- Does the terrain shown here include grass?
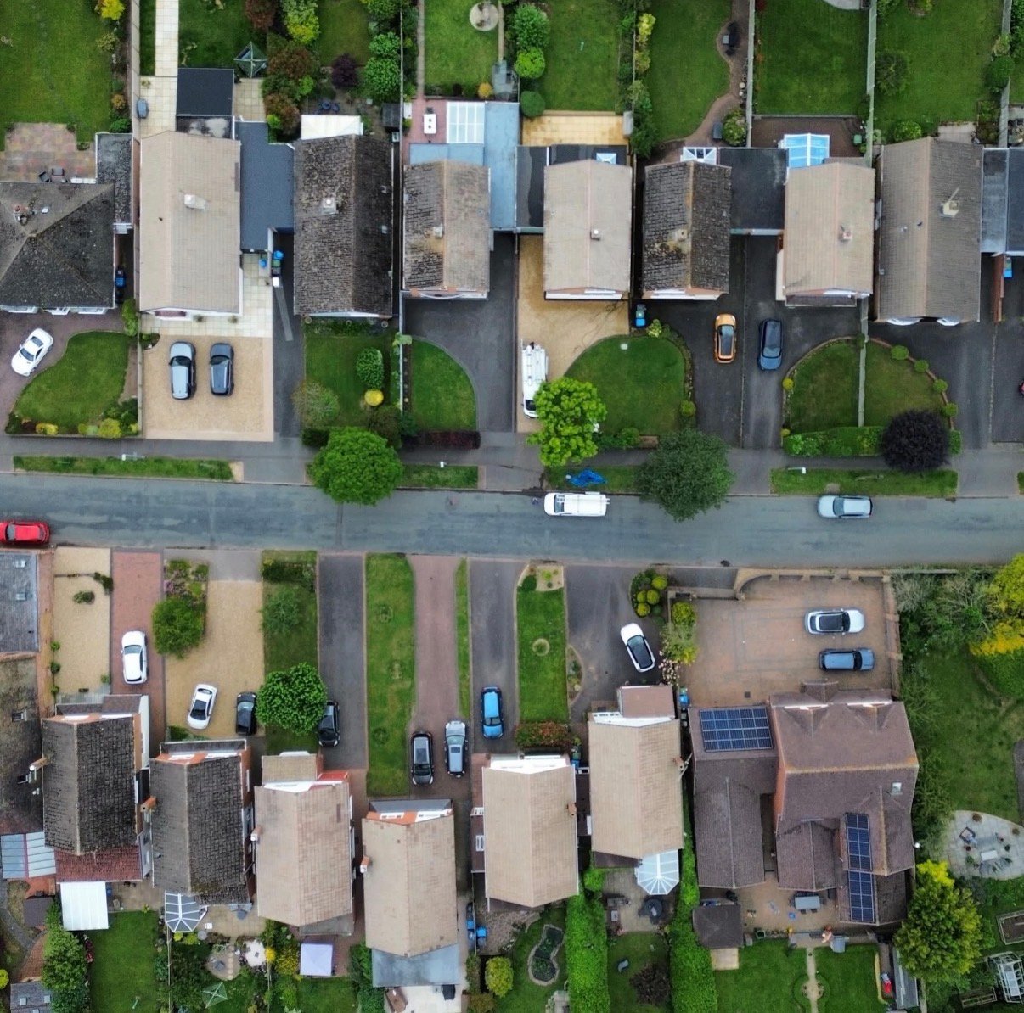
Yes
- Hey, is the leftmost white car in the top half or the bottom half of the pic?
top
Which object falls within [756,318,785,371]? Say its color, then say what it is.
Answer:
blue car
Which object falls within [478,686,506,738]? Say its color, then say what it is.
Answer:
blue car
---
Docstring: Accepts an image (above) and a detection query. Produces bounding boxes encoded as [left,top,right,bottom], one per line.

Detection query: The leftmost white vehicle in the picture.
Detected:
[11,327,57,378]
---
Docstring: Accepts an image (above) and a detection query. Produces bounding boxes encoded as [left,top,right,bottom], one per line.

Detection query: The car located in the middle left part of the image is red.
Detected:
[0,520,52,547]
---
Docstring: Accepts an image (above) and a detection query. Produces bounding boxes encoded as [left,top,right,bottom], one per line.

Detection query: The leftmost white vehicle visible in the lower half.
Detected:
[119,629,149,684]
